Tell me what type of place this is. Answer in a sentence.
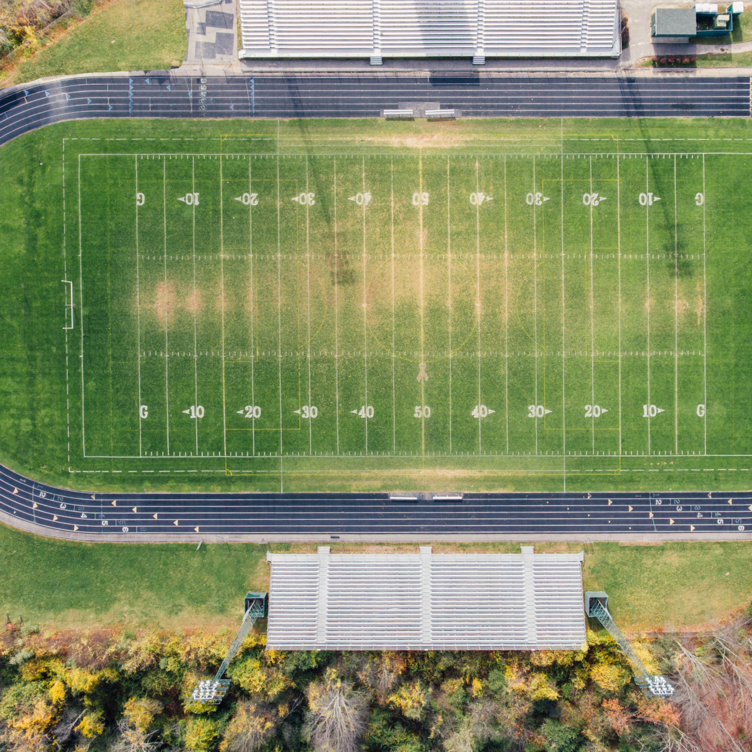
What you see here is a sports ground.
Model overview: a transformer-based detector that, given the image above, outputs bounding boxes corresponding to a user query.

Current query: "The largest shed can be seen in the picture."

[653,8,697,39]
